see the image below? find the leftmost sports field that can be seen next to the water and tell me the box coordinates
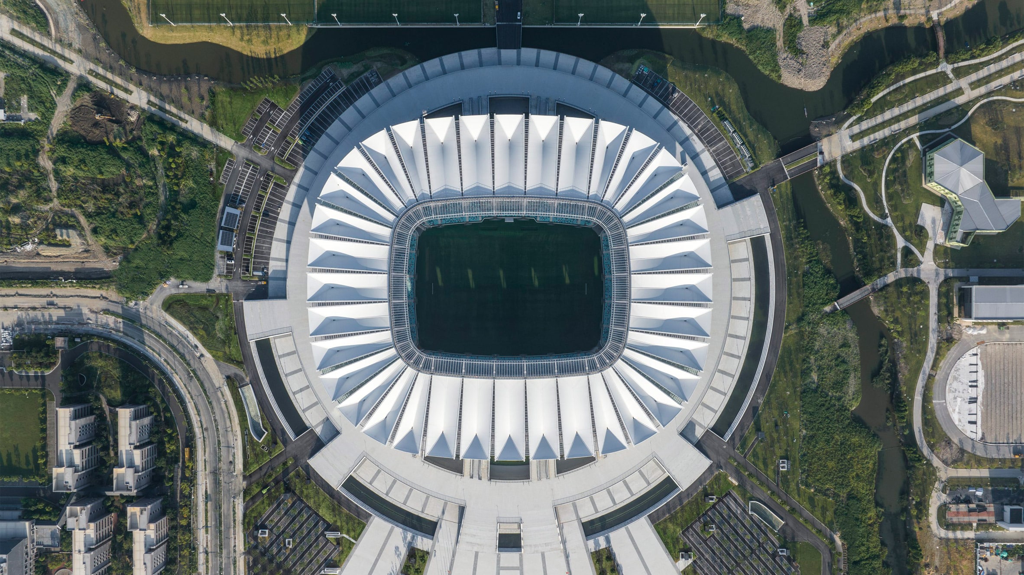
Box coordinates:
[146,0,315,23]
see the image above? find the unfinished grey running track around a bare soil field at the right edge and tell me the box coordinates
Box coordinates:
[933,329,1024,458]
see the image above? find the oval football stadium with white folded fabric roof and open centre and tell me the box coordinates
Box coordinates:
[306,112,714,463]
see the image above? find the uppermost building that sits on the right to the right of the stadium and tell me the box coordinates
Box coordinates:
[922,138,1021,247]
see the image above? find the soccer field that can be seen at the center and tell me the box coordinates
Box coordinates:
[415,217,605,358]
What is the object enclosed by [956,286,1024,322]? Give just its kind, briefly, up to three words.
building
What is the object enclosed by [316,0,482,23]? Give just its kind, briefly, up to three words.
sports field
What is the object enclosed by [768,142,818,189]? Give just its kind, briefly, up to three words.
bridge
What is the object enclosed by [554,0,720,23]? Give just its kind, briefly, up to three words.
sports field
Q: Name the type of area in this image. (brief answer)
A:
sports ground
